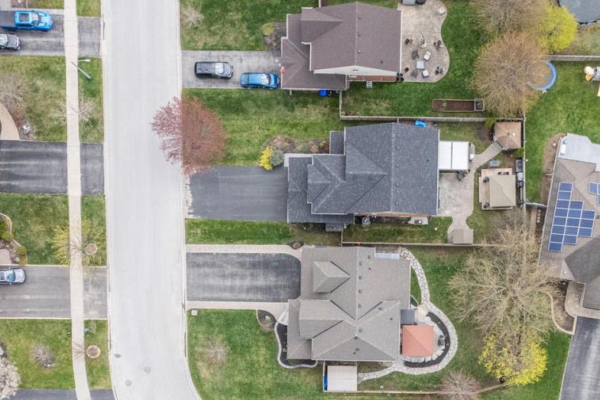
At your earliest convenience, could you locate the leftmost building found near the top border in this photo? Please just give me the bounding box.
[281,1,402,92]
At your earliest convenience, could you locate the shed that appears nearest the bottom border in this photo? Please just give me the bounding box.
[326,364,357,392]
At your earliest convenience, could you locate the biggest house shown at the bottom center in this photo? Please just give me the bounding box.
[287,246,411,361]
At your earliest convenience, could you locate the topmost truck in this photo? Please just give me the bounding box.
[0,10,54,32]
